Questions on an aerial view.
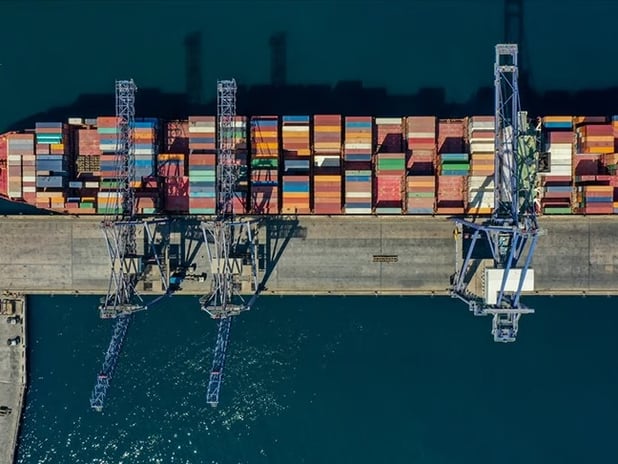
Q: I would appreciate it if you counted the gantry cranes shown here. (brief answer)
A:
three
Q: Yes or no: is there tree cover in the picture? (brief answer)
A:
No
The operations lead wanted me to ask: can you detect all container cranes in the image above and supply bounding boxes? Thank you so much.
[202,75,267,412]
[448,45,546,345]
[88,75,179,412]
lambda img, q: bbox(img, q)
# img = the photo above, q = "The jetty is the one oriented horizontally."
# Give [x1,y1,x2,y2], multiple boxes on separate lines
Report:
[0,217,618,294]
